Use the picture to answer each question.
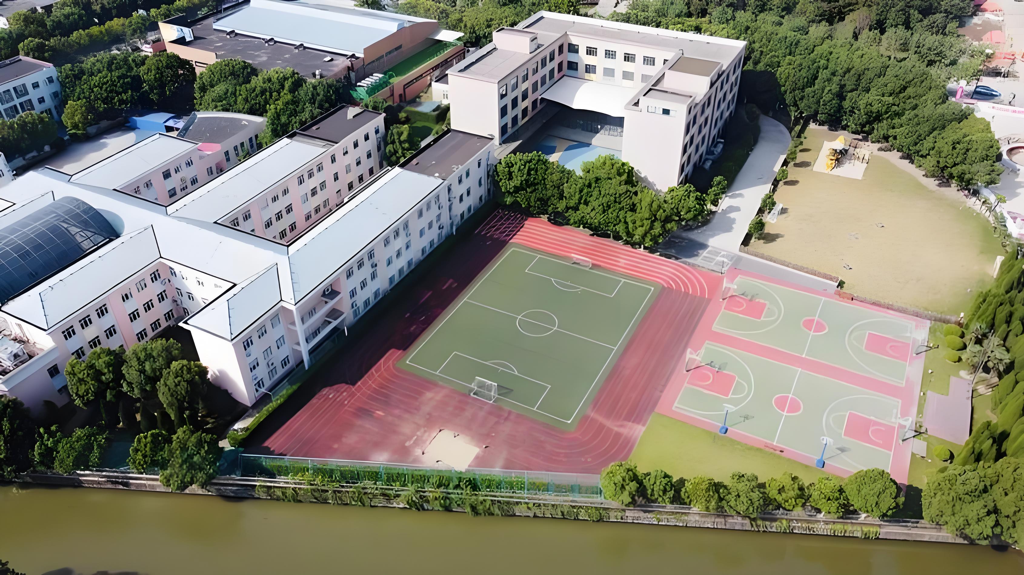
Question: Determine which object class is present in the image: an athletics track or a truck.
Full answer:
Of the two, only an athletics track appears.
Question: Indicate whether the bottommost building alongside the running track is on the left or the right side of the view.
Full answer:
The bottommost building alongside the running track sits on the left side.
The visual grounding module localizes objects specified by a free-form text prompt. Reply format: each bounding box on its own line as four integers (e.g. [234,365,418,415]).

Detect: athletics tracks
[233,207,728,490]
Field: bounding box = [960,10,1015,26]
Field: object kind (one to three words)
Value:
building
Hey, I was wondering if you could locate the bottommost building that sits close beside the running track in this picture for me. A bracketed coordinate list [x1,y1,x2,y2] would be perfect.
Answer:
[0,101,495,423]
